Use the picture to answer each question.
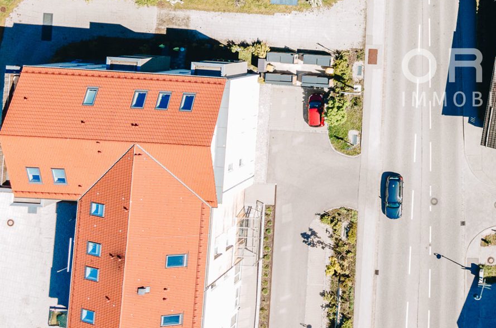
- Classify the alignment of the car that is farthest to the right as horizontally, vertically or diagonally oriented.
vertically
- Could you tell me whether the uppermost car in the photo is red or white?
red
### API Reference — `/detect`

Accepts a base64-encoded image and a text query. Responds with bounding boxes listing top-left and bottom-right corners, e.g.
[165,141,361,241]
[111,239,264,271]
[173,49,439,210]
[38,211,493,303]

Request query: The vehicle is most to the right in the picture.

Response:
[382,172,406,218]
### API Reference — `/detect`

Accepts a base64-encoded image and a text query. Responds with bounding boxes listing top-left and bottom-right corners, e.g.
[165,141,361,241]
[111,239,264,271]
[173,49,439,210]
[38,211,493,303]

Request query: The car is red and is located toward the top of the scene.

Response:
[305,93,326,127]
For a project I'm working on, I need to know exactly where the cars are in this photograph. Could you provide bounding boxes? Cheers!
[305,93,326,127]
[382,172,406,218]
